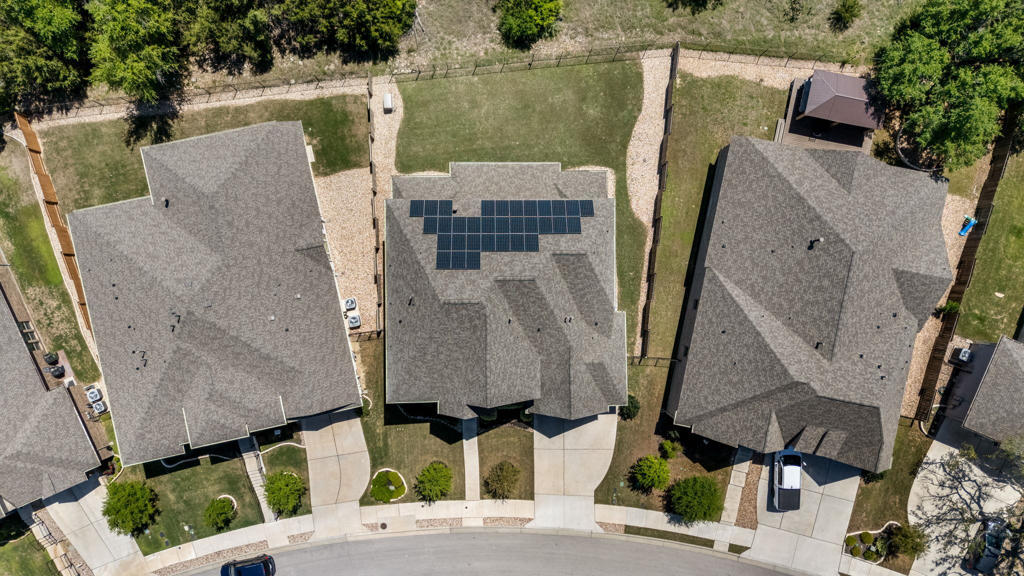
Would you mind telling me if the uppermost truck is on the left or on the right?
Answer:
right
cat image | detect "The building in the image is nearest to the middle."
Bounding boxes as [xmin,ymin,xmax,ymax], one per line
[384,161,628,419]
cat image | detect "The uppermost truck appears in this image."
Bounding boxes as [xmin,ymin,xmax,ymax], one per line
[773,442,806,510]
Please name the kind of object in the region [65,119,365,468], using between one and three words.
house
